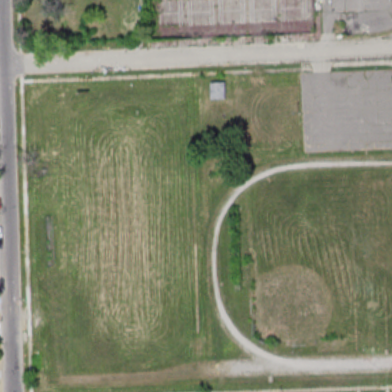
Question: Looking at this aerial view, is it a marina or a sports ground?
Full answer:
This image shows a sports ground.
